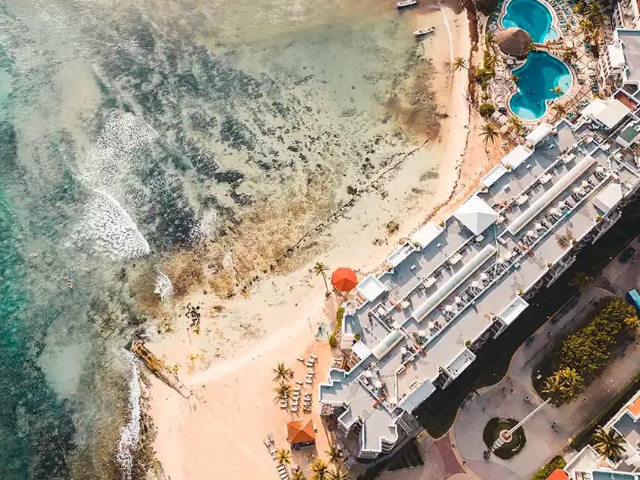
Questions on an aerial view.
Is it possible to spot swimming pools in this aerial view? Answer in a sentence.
Yes, the picture does show a swimming pool.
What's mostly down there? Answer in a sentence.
The bulk of the photo consists of water.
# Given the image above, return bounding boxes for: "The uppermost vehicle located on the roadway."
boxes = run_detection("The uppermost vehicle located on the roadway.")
[622,246,637,260]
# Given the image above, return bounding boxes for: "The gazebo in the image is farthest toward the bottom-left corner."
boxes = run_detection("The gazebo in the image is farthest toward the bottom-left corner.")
[287,420,315,445]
